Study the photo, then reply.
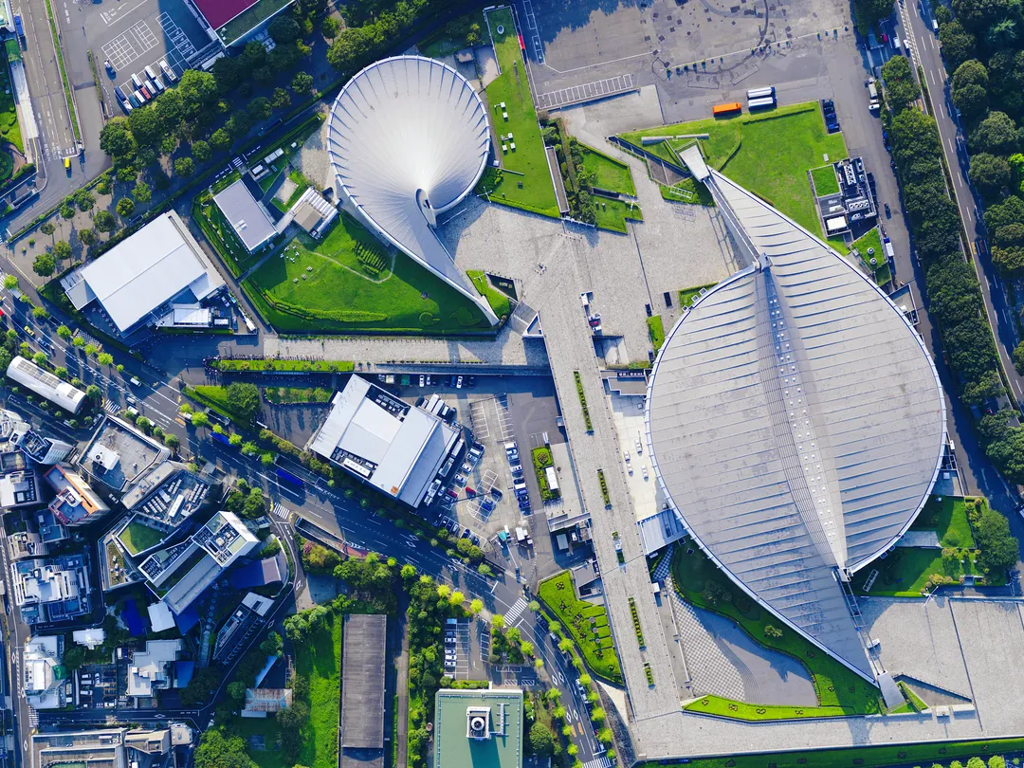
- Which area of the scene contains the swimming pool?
bottom left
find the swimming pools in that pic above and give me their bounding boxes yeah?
[122,599,146,637]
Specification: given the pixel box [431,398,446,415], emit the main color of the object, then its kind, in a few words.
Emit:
white vehicle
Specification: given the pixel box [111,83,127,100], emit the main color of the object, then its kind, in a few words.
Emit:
blue vehicle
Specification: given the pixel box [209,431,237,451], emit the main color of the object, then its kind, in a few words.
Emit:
blue bus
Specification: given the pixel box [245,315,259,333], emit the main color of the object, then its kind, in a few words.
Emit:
white vehicle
